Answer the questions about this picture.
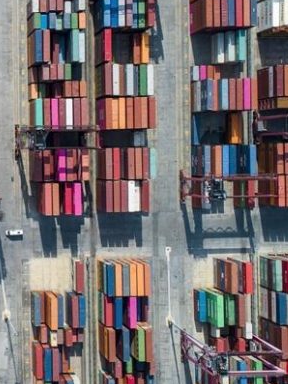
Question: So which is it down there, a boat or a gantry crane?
gantry crane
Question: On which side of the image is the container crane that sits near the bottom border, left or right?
right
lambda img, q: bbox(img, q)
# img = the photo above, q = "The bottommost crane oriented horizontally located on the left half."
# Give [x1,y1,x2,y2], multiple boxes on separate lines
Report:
[16,123,104,155]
